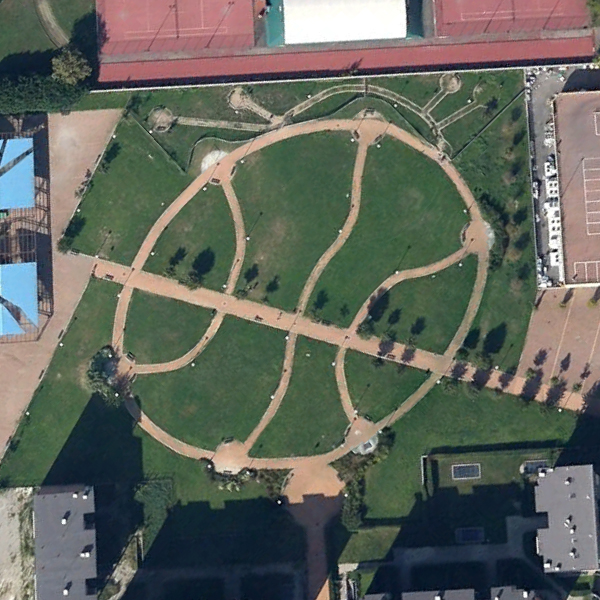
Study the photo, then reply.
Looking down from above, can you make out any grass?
Yes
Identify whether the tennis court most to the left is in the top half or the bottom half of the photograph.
top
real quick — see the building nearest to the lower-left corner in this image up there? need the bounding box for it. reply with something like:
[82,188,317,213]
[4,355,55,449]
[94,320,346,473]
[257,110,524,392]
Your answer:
[30,483,103,600]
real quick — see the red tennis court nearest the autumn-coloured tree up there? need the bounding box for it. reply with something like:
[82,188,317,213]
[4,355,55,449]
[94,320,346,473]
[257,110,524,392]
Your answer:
[99,0,254,52]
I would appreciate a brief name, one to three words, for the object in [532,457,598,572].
building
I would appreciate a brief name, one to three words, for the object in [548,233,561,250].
vehicle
